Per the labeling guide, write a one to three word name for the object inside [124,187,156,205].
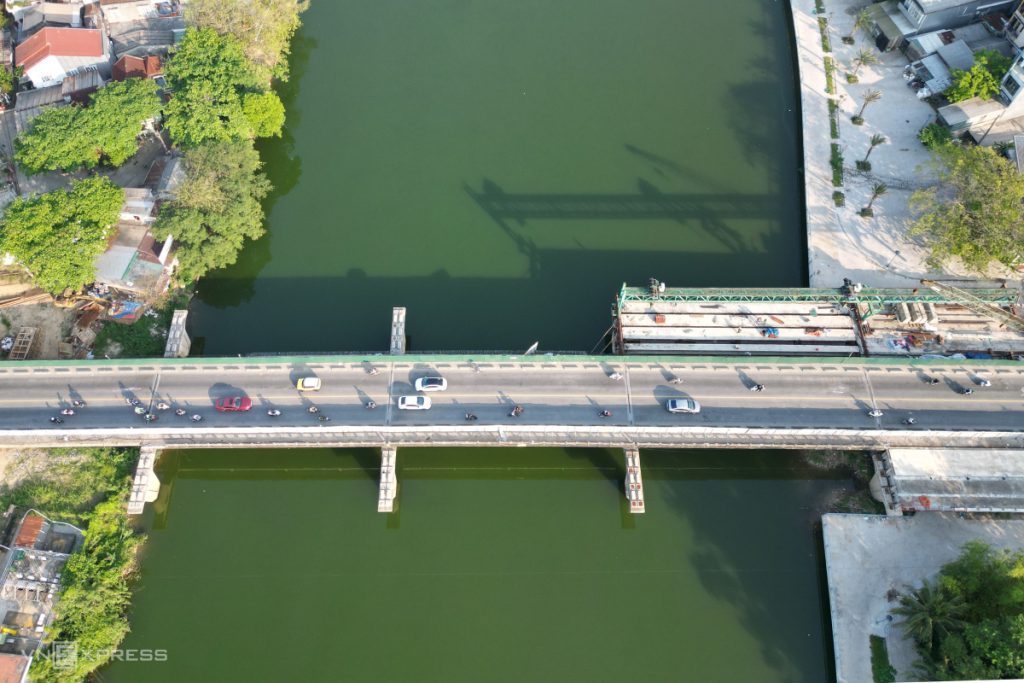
shed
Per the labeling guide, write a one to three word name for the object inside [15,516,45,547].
shed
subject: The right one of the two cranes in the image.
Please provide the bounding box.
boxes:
[918,274,1024,347]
